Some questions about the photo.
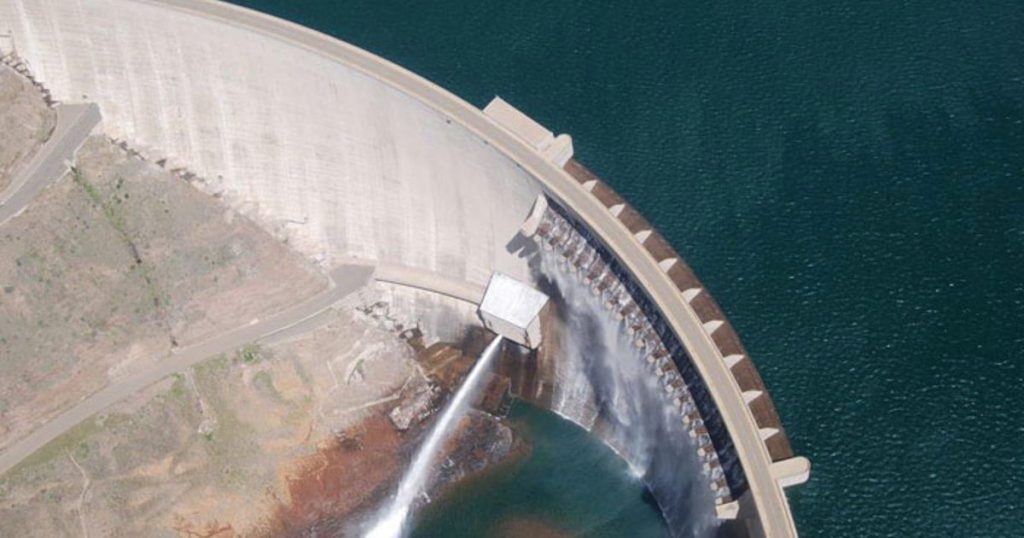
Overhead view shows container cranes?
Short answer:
No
